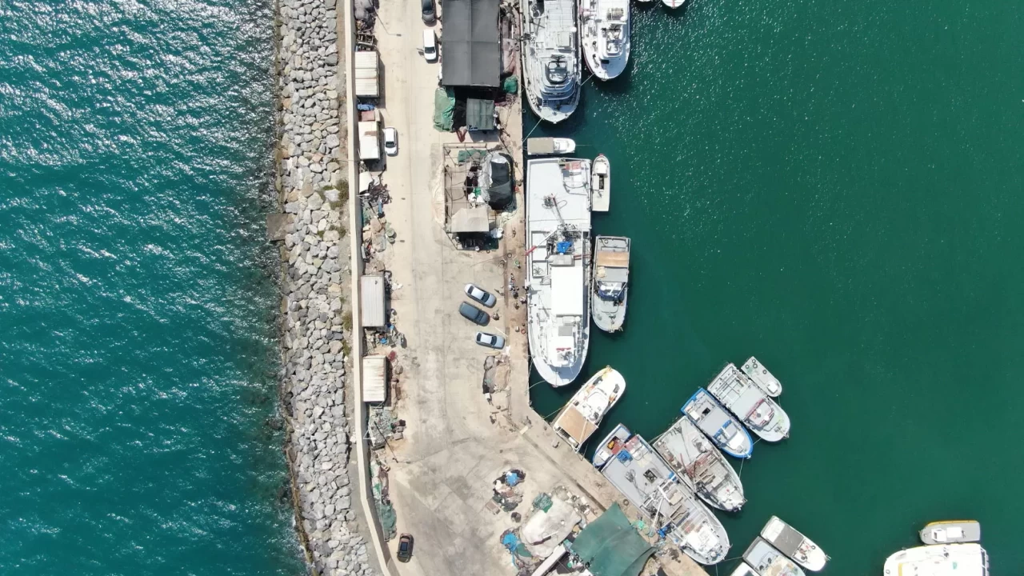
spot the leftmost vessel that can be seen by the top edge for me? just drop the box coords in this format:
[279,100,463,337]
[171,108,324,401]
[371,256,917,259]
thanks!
[520,0,584,123]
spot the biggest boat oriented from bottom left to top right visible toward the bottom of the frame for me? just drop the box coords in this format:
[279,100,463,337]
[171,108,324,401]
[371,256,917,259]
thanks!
[552,365,622,449]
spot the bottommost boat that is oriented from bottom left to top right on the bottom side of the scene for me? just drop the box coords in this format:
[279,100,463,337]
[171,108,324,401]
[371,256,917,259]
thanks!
[595,425,631,468]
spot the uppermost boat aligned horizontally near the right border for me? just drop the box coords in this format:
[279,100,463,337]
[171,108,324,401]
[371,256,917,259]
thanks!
[918,520,980,545]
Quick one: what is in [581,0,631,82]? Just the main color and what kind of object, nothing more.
white vessel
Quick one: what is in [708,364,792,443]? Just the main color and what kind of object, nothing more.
white boat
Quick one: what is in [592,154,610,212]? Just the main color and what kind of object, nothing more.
white boat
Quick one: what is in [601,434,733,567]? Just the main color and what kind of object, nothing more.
white vessel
